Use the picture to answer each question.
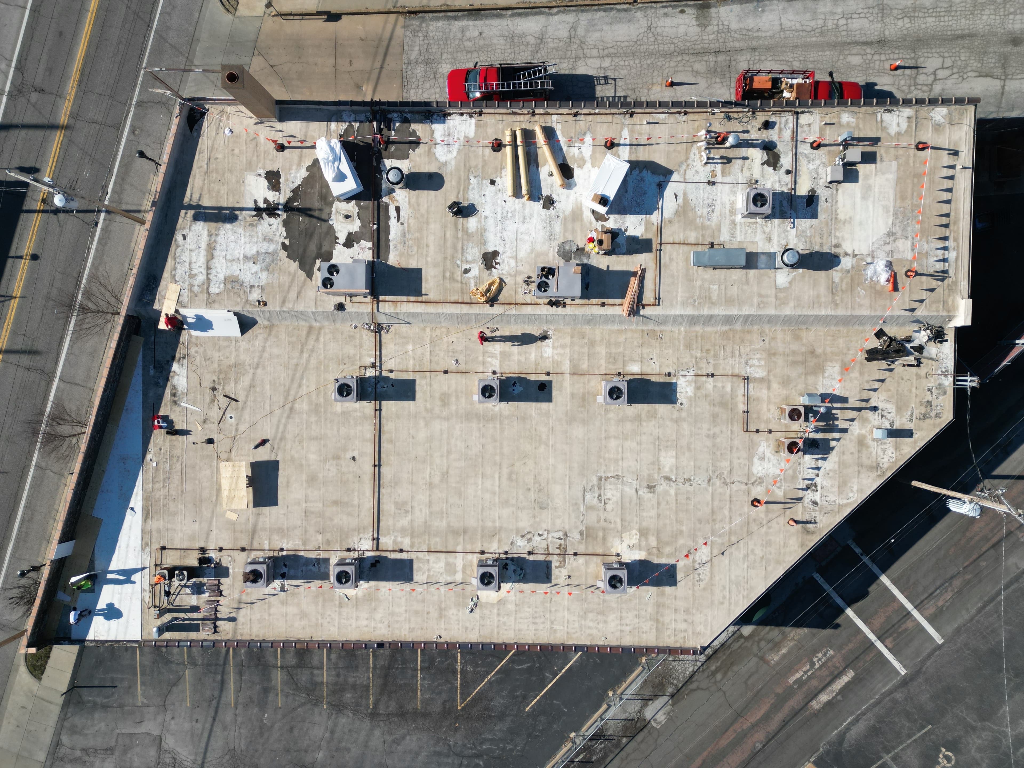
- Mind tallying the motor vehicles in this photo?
2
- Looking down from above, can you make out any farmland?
No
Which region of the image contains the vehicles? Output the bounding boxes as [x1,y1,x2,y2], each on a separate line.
[731,68,862,97]
[447,61,551,98]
